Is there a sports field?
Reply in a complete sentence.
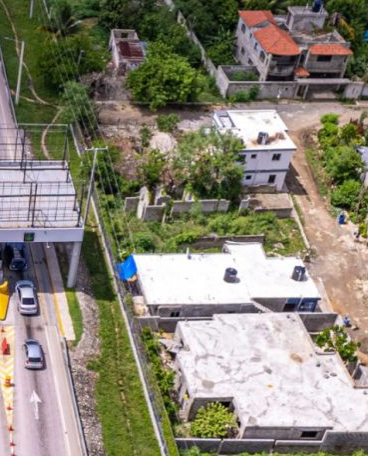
No, the frame has no sports field in it.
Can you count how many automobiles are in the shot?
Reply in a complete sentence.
I count 3 automobiles.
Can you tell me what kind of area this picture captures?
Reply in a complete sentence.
The picture captures a residential area.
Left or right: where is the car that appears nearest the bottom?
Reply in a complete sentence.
You can find the car that appears nearest the bottom on the left side of the picture.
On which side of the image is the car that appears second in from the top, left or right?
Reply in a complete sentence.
You can find the car that appears second in from the top on the left side of the picture.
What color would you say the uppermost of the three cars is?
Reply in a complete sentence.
The color of the uppermost of the three cars is black.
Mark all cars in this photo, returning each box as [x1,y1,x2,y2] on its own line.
[22,341,46,372]
[14,283,39,315]
[5,242,27,271]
